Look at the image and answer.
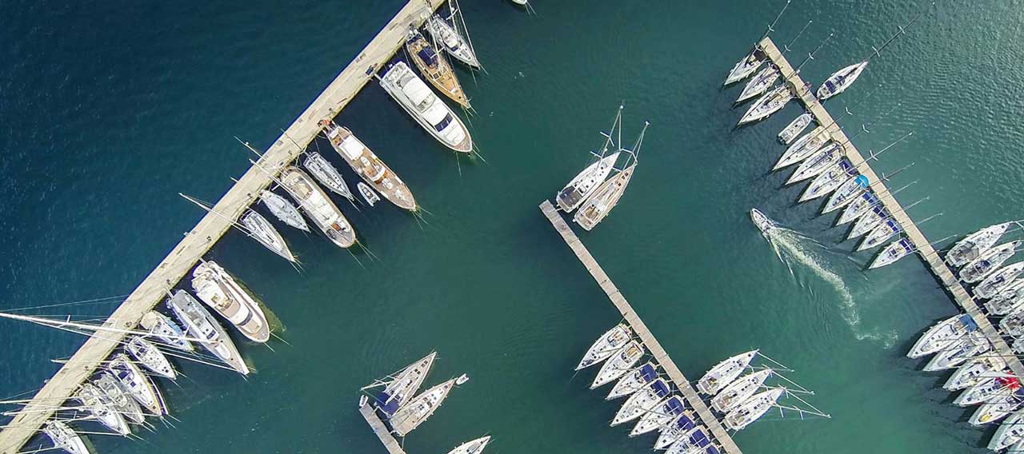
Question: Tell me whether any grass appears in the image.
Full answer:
No, the scene doesn't show any grass.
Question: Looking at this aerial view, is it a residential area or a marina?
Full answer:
What you see here is a marina.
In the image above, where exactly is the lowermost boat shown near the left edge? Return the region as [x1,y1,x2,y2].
[2,413,93,454]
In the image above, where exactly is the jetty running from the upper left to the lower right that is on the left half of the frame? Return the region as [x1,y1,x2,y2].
[359,404,405,454]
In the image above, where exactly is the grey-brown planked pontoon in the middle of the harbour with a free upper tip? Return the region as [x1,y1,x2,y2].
[539,199,742,454]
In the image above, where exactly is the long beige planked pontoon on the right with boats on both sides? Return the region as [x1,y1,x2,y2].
[761,37,1024,385]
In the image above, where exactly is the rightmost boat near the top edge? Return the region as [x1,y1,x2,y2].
[805,0,933,109]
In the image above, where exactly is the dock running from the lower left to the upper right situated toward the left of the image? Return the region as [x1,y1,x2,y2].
[0,0,447,454]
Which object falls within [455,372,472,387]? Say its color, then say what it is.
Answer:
white boat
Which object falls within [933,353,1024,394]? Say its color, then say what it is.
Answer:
white boat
